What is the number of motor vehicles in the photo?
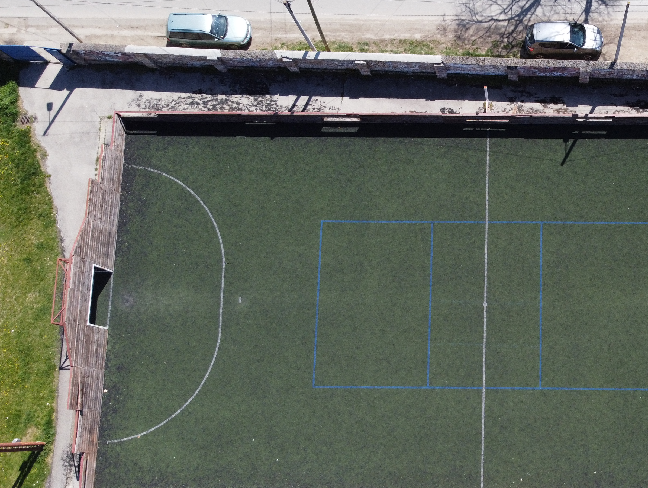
two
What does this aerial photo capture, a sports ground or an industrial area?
sports ground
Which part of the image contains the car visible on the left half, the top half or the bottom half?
top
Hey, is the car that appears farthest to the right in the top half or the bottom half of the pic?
top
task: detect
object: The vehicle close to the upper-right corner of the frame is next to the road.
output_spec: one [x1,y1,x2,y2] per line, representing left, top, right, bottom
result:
[526,19,600,60]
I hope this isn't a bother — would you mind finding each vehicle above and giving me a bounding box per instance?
[526,19,600,60]
[162,8,250,49]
